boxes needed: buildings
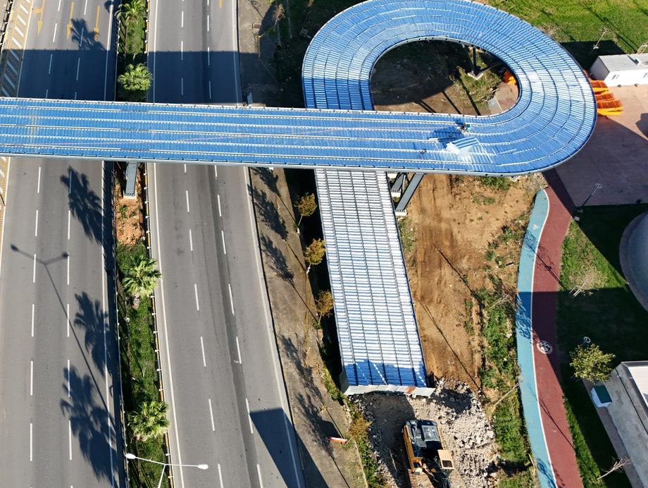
[594,360,648,481]
[592,53,648,86]
[606,213,648,308]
